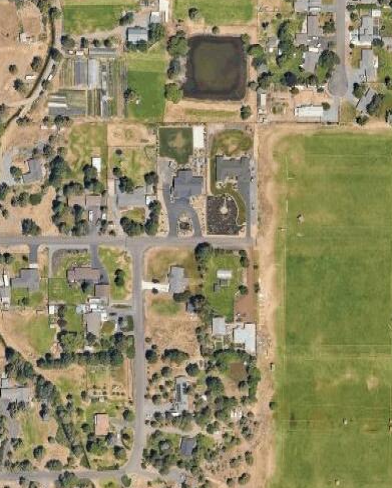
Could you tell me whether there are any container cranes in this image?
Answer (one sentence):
No, I can see no container crane in this picture.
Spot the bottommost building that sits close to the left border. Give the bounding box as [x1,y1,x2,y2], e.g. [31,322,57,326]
[1,379,31,405]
